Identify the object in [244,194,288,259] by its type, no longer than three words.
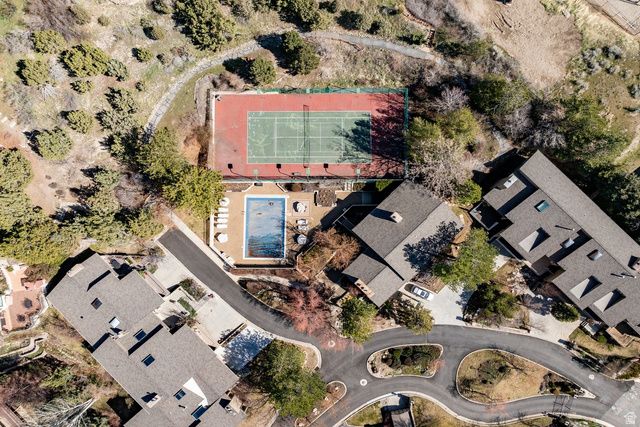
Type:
swimming pool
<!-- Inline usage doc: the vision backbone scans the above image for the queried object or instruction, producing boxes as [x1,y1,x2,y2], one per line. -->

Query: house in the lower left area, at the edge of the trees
[47,253,248,427]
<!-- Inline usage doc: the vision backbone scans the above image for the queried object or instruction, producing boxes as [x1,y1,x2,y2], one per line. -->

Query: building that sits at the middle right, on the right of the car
[478,150,640,336]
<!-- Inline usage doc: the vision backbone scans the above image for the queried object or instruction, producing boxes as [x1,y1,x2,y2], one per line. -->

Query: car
[412,284,436,303]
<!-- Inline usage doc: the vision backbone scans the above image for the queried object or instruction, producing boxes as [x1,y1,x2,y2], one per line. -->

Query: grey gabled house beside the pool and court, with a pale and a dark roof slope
[342,178,464,308]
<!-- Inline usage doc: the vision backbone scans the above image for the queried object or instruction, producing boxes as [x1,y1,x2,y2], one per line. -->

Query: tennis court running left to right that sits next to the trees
[212,93,406,181]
